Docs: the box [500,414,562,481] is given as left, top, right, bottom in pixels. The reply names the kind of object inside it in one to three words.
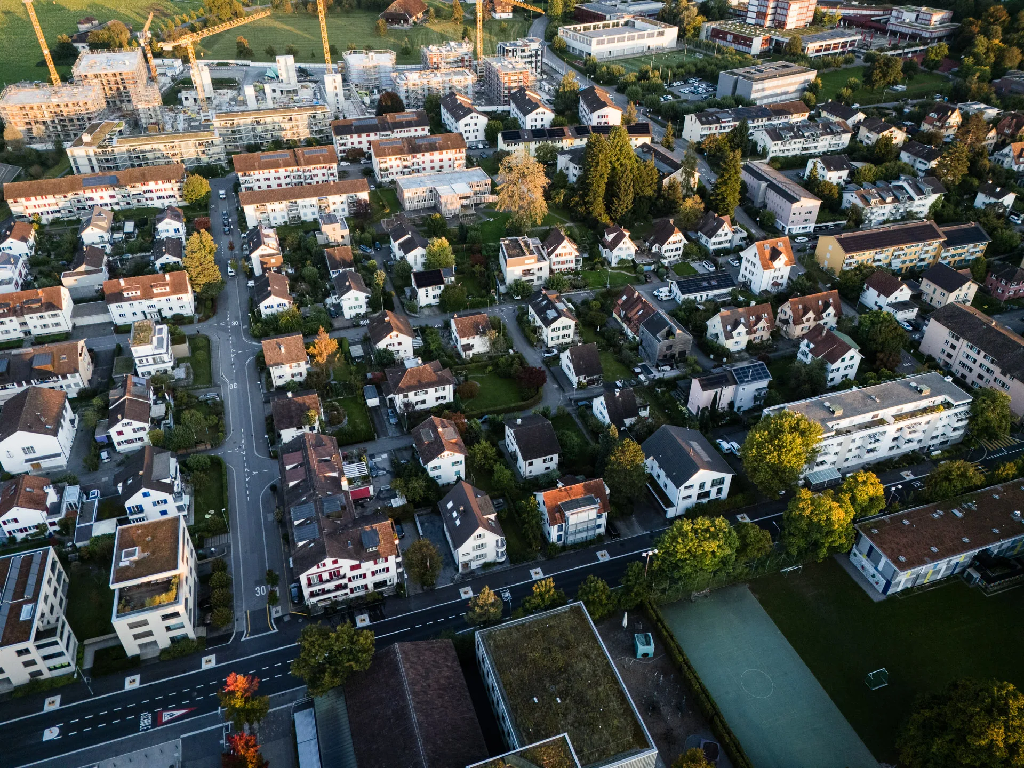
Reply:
house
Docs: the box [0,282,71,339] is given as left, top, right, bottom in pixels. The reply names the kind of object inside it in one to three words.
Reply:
building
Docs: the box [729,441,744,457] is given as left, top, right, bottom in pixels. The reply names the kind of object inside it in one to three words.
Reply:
car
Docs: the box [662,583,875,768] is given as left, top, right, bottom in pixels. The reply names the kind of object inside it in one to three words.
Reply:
sports court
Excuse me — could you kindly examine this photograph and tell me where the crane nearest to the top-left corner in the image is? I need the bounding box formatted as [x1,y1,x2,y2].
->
[27,0,61,85]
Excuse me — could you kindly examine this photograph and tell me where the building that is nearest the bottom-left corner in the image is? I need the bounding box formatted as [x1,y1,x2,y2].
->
[0,546,85,695]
